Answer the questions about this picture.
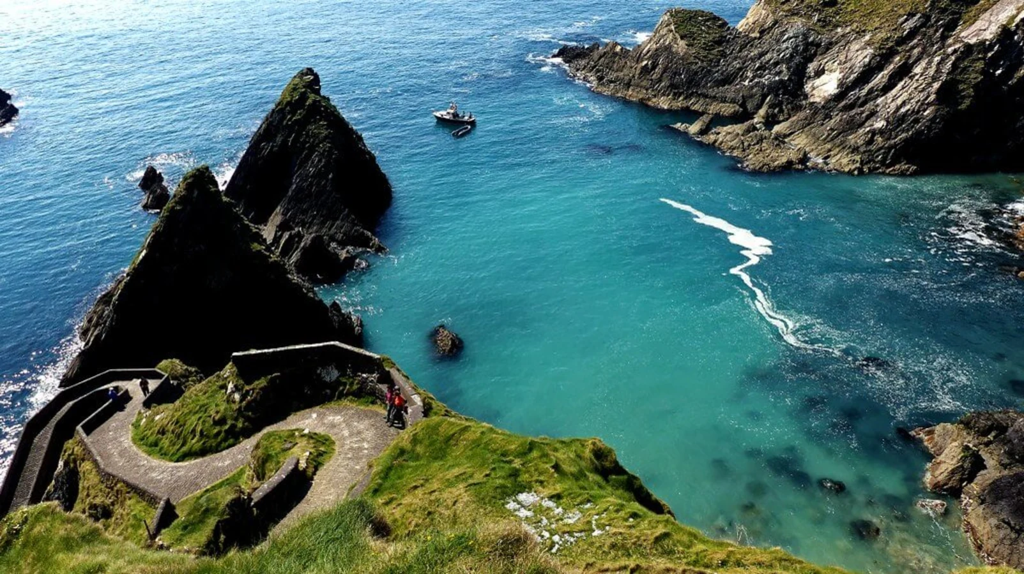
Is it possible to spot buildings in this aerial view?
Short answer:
No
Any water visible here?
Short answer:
Yes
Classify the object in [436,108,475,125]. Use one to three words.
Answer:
boat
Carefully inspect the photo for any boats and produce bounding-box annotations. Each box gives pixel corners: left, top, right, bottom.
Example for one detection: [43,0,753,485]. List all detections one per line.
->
[450,127,470,138]
[436,108,475,125]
